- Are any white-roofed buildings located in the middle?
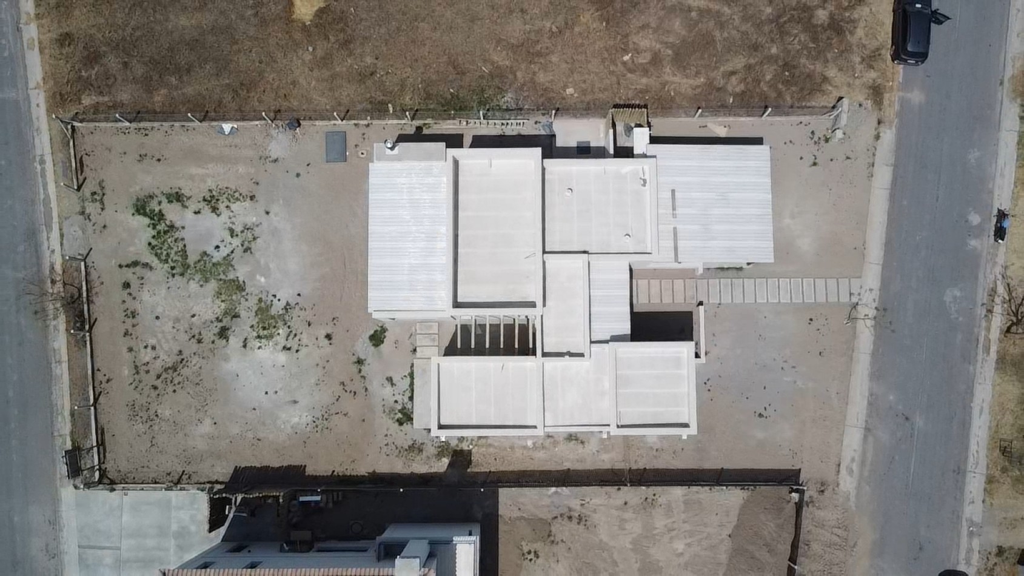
Yes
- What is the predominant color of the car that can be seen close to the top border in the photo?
black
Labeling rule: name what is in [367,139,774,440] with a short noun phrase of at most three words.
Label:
house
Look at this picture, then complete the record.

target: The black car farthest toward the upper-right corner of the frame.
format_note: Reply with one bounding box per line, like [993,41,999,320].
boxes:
[890,0,947,63]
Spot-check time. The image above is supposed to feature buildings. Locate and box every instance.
[367,139,774,440]
[170,521,481,576]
